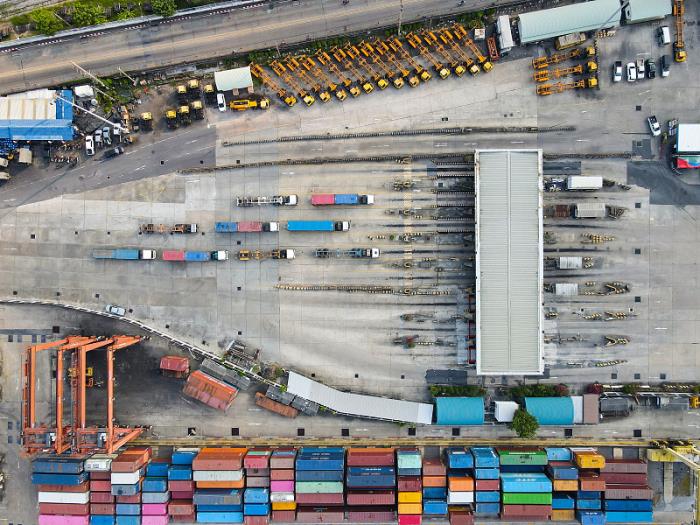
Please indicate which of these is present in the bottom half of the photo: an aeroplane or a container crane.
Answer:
container crane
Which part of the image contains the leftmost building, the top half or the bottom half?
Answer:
top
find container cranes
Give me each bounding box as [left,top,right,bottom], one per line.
[649,442,700,525]
[69,336,147,457]
[17,336,103,457]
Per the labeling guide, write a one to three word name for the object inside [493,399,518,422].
shed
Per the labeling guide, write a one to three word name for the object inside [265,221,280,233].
vehicle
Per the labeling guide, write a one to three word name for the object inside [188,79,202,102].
work vehicle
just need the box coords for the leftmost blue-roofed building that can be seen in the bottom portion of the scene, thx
[435,394,485,425]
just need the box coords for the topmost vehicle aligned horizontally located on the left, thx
[230,96,269,110]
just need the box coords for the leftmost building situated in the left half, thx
[0,88,81,142]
